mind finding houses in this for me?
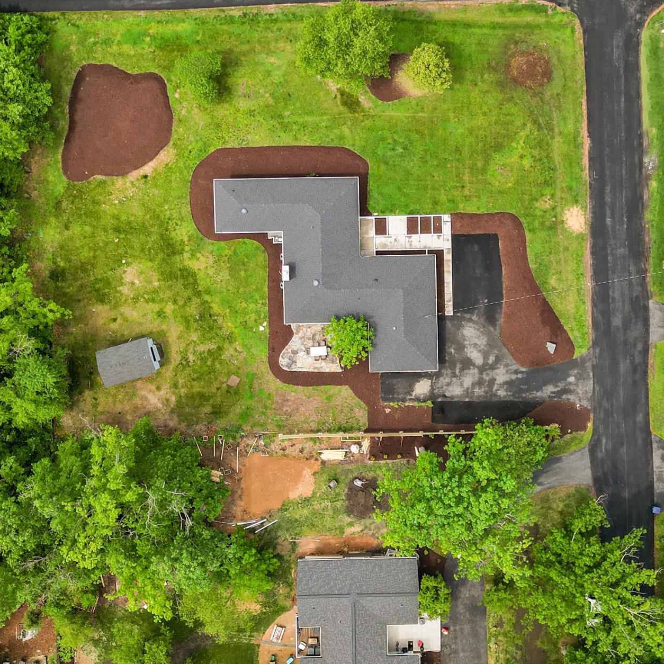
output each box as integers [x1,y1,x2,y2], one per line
[292,552,442,664]
[213,176,438,374]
